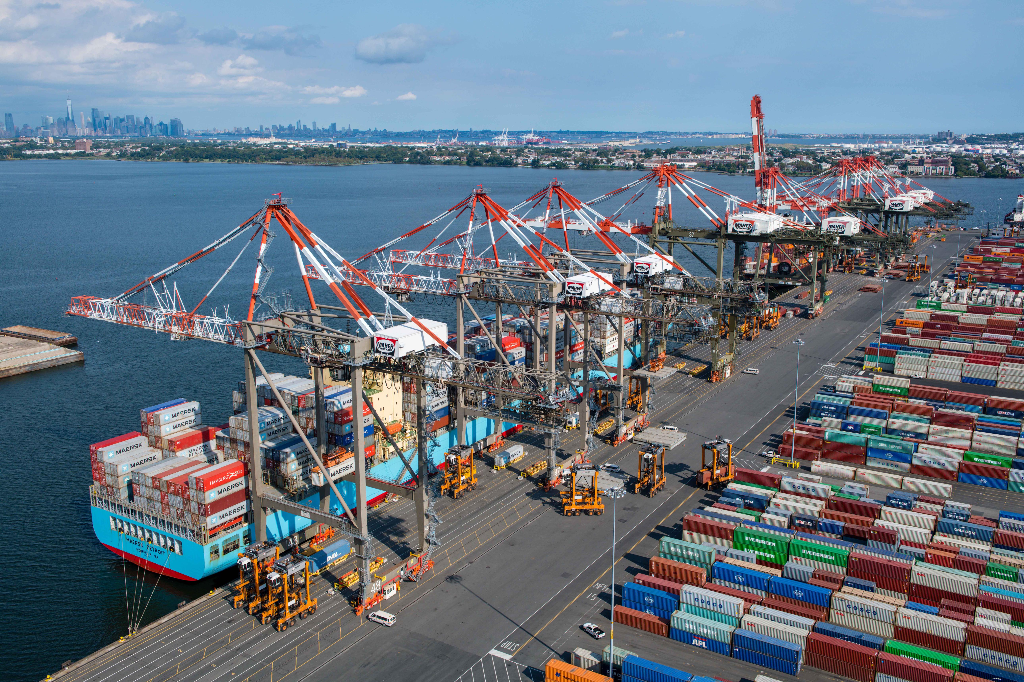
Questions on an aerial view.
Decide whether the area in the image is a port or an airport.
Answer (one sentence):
The area seen from above is a port.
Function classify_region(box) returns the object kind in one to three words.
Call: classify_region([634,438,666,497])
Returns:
work vehicle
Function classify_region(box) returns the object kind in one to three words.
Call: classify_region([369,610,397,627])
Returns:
vehicle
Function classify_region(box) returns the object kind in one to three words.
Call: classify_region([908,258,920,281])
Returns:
vehicle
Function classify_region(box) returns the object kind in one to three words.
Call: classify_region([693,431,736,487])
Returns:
work vehicle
